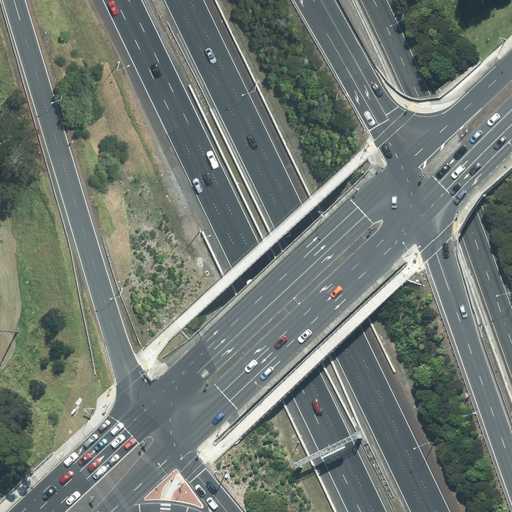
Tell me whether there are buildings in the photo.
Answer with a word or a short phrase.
No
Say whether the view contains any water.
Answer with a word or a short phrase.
No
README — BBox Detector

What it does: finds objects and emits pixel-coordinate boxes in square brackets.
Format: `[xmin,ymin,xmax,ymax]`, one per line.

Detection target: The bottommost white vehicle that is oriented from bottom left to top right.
[66,492,80,506]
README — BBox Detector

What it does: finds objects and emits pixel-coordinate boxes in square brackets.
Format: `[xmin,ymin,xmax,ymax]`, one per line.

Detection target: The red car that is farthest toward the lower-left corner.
[59,470,74,485]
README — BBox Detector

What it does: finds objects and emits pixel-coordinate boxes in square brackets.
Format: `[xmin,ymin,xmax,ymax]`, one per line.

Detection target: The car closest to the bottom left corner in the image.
[42,486,57,500]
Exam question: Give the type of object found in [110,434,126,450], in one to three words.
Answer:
vehicle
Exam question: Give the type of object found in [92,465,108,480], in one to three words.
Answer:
car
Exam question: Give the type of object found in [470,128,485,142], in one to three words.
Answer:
car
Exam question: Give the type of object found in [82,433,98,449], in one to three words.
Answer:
vehicle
